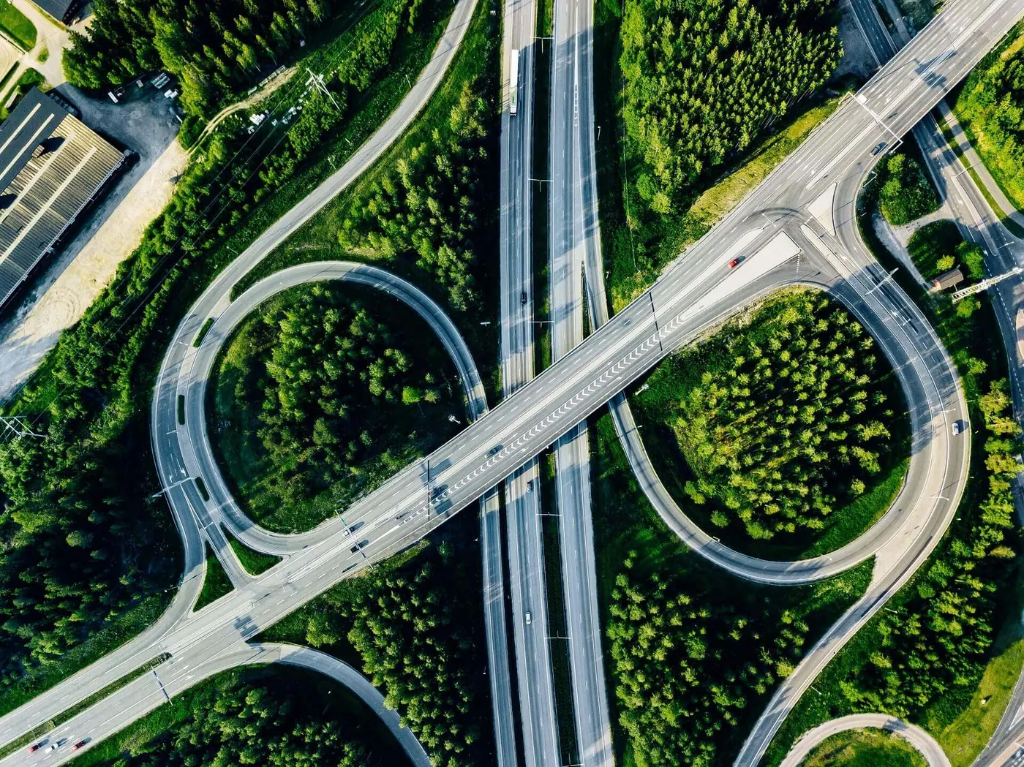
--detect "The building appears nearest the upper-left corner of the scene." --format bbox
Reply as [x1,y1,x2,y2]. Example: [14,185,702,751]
[33,0,85,29]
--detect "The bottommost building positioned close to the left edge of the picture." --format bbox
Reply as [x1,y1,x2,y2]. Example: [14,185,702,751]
[0,87,132,321]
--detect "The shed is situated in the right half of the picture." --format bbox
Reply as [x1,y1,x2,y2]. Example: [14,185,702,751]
[923,265,960,294]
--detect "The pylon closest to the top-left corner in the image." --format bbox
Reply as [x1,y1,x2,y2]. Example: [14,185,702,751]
[303,68,341,115]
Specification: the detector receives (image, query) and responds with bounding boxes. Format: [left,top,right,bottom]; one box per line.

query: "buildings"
[0,87,132,321]
[923,265,960,294]
[33,0,85,29]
